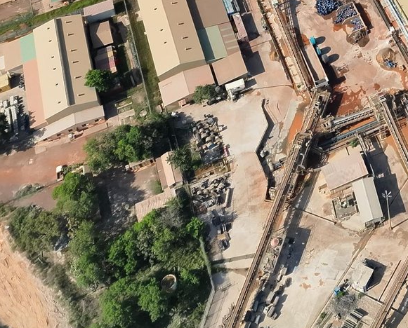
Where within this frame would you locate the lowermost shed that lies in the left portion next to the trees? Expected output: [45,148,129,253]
[134,186,181,218]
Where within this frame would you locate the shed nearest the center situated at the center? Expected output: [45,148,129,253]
[160,155,179,189]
